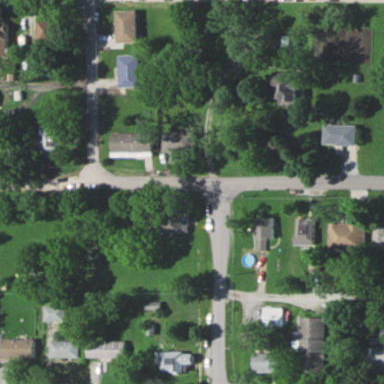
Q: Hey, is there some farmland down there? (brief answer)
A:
No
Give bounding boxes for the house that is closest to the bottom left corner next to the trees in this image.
[0,339,34,358]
